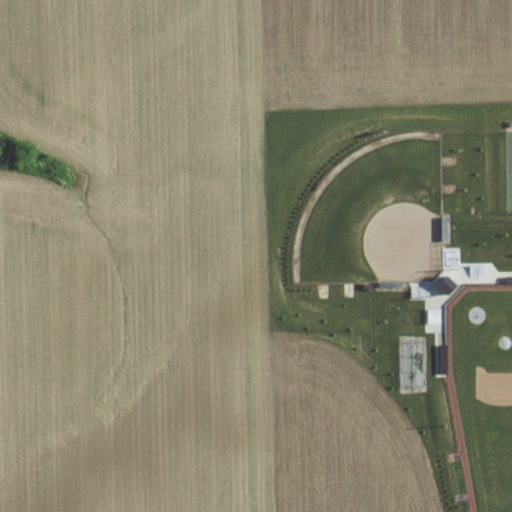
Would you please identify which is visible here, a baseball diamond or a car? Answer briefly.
baseball diamond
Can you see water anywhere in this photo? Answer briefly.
No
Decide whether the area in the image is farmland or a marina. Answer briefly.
farmland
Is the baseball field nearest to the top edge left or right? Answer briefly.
right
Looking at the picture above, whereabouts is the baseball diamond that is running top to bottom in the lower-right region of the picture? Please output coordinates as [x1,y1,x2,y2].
[445,284,512,512]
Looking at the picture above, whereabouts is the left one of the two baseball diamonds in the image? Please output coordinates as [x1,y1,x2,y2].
[293,132,442,284]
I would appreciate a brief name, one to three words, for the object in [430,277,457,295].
building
